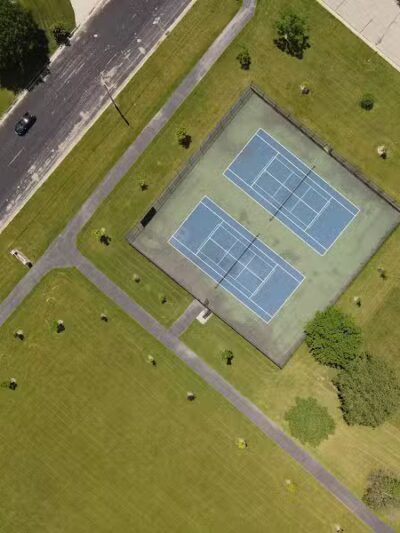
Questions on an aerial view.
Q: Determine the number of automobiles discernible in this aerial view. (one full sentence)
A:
Just 1 automobile appears in this view.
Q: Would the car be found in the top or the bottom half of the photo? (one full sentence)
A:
You can find the car in the top half.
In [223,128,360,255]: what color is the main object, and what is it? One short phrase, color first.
blue tennis court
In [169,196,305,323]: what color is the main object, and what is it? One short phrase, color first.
blue tennis court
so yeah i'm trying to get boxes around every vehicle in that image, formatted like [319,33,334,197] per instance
[13,111,35,135]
